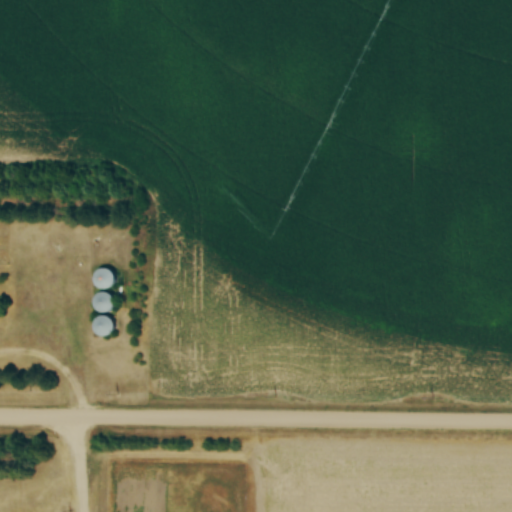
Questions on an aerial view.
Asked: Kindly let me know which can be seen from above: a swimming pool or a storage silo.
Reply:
storage silo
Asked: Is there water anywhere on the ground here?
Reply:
No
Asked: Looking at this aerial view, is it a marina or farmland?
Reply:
farmland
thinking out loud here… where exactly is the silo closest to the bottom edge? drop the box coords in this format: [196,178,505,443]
[92,314,116,336]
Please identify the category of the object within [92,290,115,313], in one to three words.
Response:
silo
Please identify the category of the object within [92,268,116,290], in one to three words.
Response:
silo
